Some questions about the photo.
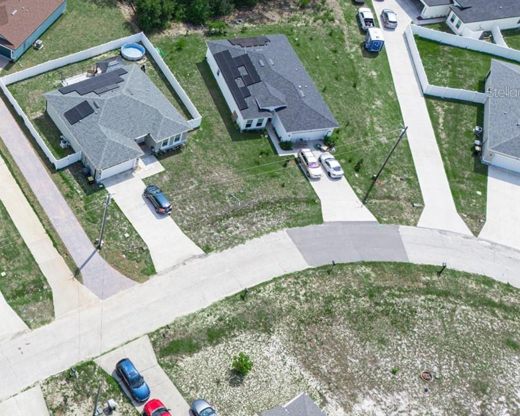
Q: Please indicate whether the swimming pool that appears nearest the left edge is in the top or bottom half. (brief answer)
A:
top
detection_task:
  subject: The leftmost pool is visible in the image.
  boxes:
[120,40,147,63]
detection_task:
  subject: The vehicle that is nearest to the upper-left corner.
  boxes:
[141,182,176,216]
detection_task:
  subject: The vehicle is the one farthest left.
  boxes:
[113,356,152,405]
